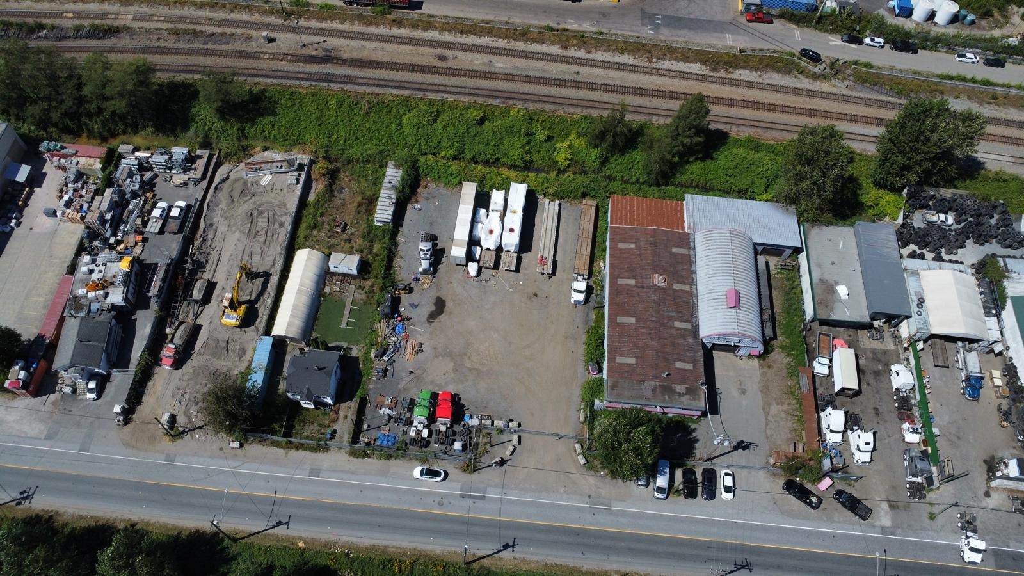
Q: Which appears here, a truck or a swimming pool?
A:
truck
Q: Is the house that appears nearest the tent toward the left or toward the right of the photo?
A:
left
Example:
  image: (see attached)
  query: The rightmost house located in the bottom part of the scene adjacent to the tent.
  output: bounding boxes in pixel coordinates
[278,348,343,416]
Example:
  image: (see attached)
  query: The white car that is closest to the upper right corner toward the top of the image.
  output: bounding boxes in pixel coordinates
[954,52,979,64]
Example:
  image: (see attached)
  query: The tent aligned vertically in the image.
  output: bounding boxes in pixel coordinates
[276,252,328,349]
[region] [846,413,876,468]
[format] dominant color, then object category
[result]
white truck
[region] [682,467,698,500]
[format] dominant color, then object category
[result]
black car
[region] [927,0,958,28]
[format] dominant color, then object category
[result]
white storage tank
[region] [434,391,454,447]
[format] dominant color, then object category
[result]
red vehicle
